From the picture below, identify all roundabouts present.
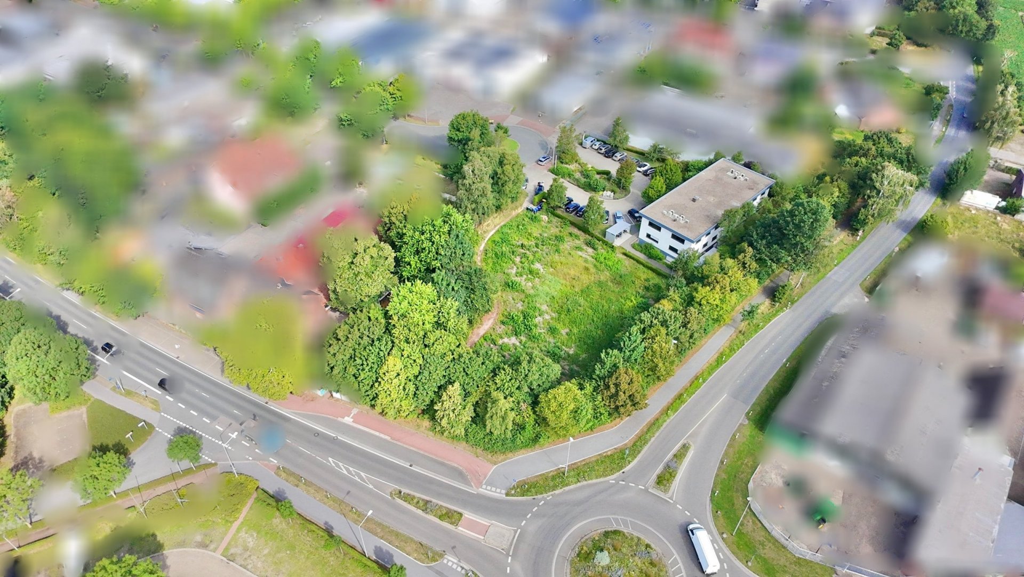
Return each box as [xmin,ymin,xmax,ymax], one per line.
[464,466,758,577]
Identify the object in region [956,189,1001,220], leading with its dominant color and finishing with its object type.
white trailer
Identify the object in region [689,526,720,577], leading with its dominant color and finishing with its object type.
white van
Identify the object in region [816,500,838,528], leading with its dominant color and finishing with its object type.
green work vehicle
